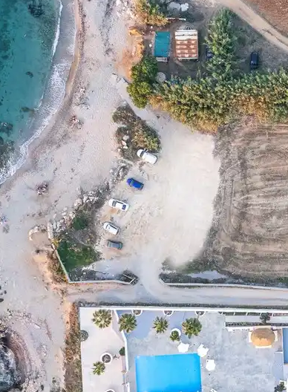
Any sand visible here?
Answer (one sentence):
Yes, there is sand in the image.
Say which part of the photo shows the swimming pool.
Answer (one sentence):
The swimming pool appears toward the bottom of the photo.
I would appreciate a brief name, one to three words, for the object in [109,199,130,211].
vehicle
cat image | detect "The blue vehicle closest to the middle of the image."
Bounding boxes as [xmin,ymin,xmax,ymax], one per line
[126,177,145,190]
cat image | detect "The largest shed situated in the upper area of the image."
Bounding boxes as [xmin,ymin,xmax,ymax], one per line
[174,29,198,60]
